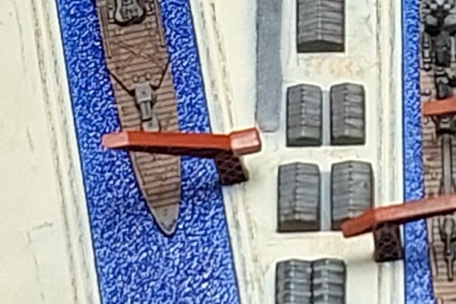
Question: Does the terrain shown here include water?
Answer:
Yes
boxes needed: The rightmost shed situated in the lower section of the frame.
[331,162,373,229]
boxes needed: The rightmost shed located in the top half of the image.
[330,83,365,144]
